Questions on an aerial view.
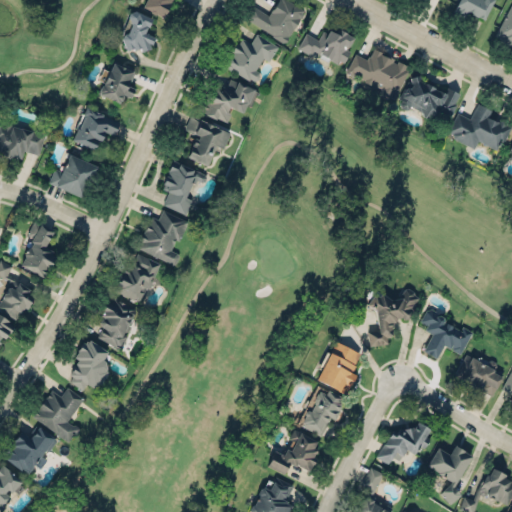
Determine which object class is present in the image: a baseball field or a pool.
pool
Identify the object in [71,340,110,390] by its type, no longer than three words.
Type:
house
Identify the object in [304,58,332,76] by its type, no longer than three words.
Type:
swimming pool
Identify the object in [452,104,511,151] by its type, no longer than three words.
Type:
house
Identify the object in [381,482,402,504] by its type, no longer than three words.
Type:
swimming pool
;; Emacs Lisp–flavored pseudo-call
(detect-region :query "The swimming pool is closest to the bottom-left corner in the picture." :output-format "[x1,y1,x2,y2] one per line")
[8,489,30,512]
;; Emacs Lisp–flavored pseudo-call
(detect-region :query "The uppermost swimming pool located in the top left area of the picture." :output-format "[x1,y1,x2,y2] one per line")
[90,62,106,84]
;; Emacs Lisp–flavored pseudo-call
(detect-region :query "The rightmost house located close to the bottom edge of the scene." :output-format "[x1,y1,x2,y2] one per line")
[480,468,512,504]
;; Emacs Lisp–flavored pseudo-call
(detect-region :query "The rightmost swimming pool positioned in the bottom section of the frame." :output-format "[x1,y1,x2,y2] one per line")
[420,293,450,323]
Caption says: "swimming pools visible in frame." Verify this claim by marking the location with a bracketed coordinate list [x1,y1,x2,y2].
[8,232,22,258]
[36,453,70,486]
[51,142,66,165]
[63,106,81,138]
[258,62,281,85]
[18,109,37,124]
[276,428,288,446]
[193,177,214,202]
[148,286,166,306]
[304,58,332,76]
[420,293,450,323]
[398,453,421,476]
[290,382,312,412]
[468,147,492,166]
[381,482,402,504]
[90,62,106,84]
[400,112,424,128]
[8,489,30,512]
[110,358,128,378]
